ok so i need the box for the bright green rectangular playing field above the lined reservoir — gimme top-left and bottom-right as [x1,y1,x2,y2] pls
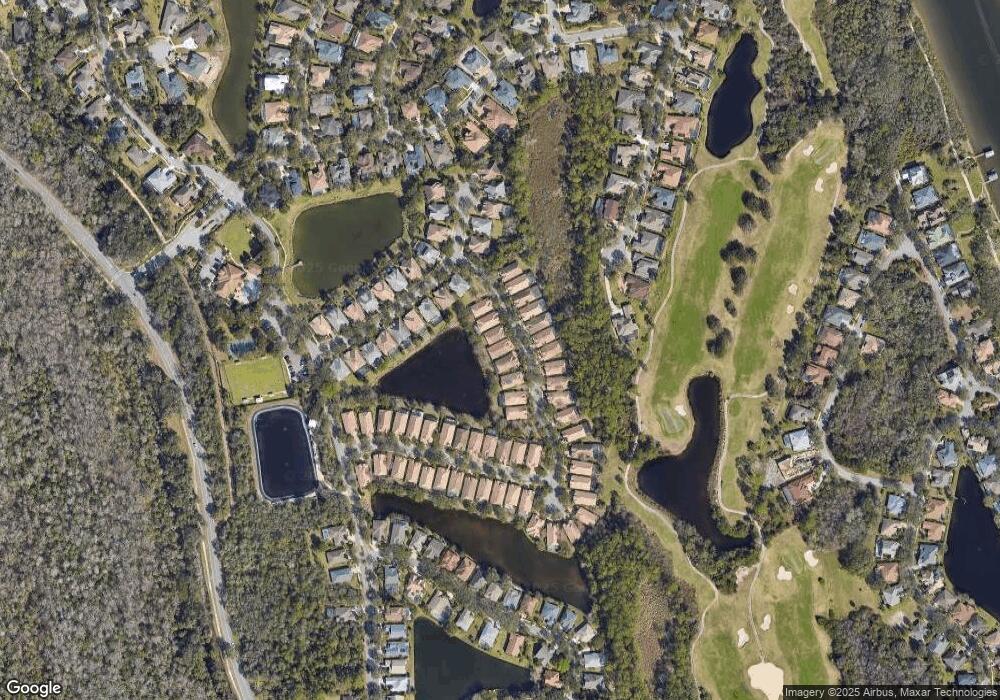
[226,356,288,404]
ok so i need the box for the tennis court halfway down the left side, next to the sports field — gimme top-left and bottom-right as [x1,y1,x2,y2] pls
[229,340,257,357]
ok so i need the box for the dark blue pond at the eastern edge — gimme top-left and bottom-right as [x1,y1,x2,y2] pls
[944,465,1000,625]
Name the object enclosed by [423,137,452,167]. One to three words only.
house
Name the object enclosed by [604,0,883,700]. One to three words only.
golf course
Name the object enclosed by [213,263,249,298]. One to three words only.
building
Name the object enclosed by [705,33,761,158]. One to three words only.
pond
